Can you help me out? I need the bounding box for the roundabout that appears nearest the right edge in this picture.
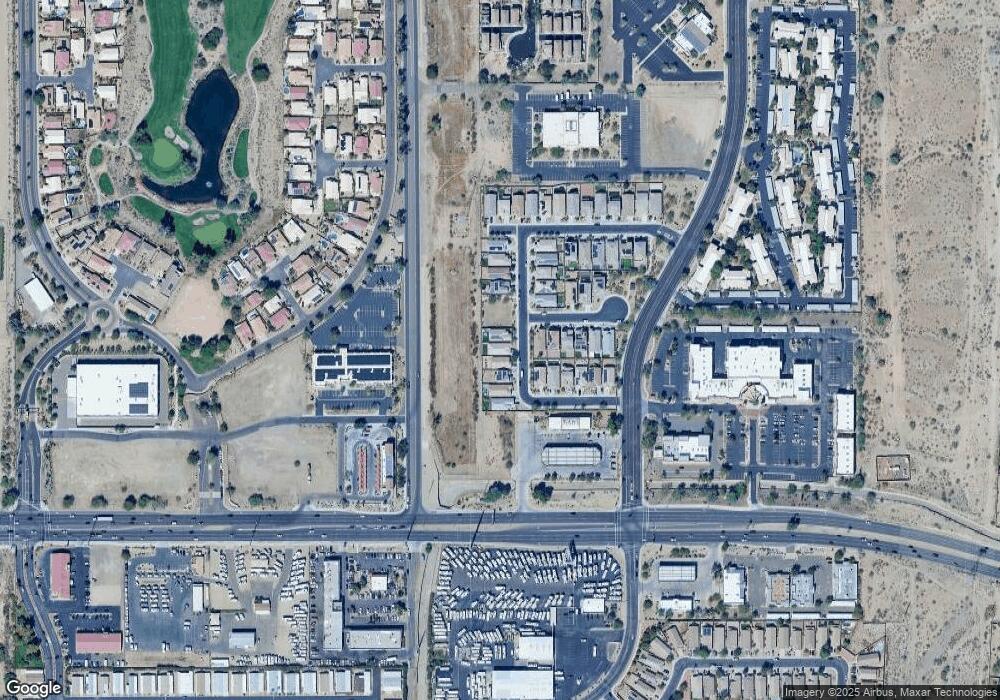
[743,143,772,171]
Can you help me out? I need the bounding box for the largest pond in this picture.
[143,69,239,204]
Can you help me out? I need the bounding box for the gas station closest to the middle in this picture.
[542,447,602,466]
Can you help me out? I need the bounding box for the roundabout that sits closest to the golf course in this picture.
[85,300,117,332]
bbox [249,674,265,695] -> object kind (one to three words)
house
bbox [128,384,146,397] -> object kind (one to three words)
solar panel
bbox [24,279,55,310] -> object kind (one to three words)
building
